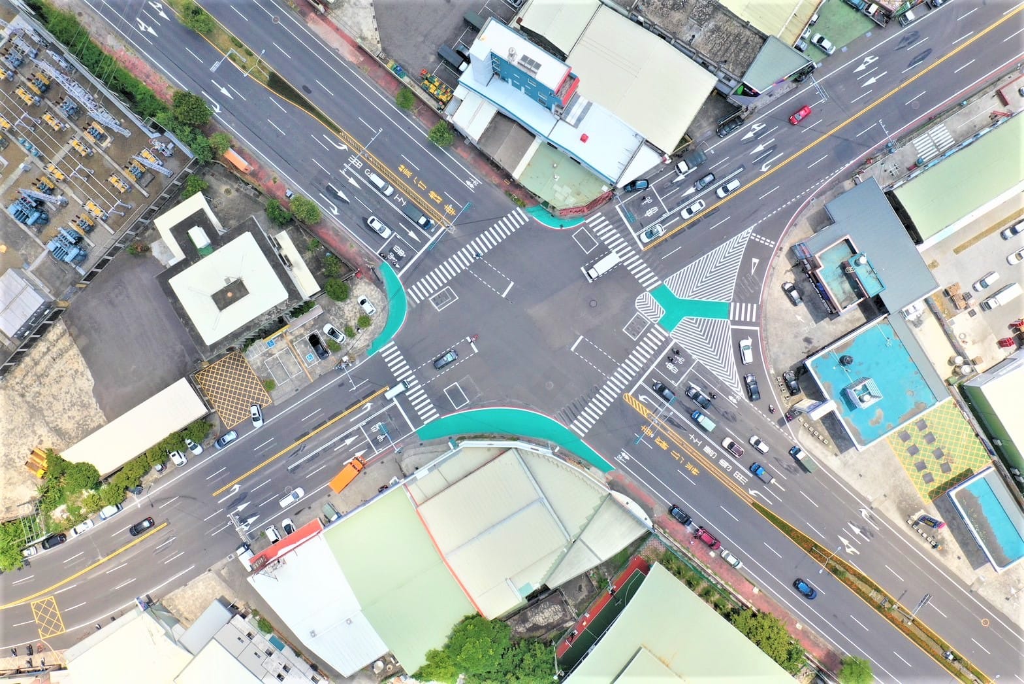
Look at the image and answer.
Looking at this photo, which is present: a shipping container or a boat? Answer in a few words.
shipping container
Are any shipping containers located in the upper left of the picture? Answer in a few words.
Yes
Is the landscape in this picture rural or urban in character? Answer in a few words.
urban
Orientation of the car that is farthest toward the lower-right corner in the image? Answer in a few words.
at an angle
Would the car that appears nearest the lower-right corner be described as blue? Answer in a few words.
Yes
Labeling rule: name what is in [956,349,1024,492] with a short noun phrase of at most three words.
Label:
building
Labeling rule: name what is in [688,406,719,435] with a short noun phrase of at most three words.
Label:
truck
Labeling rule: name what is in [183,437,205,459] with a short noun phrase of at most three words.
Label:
car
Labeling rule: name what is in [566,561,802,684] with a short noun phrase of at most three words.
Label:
building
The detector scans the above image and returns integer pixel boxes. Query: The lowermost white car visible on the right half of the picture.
[717,546,744,570]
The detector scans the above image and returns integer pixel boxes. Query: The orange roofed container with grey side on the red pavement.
[221,146,254,175]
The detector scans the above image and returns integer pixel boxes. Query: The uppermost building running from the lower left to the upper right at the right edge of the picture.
[883,105,1024,249]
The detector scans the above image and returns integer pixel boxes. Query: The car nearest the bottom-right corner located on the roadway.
[792,577,816,599]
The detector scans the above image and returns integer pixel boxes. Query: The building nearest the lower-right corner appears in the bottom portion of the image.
[944,465,1024,572]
